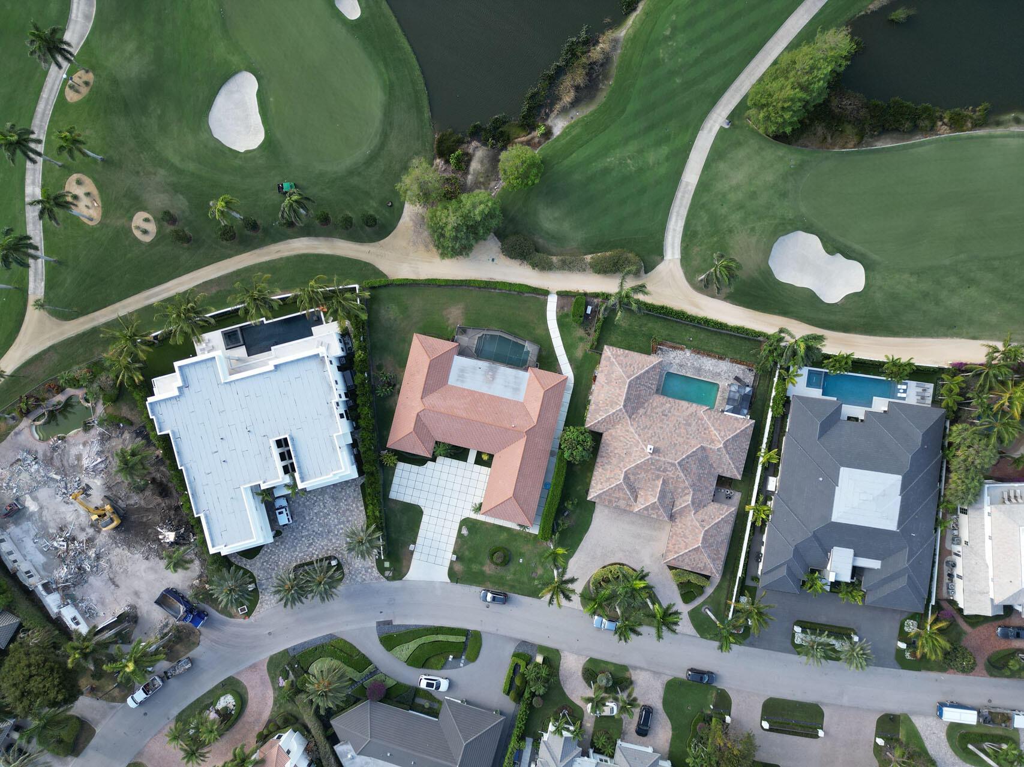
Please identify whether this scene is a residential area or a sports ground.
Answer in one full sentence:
It's a residential area.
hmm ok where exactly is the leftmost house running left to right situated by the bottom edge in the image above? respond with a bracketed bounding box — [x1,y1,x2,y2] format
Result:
[330,694,505,767]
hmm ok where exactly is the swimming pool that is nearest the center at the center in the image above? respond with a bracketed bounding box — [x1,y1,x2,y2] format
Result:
[473,332,532,369]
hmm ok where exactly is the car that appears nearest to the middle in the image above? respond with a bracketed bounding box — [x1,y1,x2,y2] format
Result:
[479,588,508,605]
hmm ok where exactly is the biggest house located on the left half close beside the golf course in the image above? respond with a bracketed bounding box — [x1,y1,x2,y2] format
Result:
[147,332,364,555]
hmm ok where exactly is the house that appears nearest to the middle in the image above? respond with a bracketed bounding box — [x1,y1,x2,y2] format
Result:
[386,333,568,527]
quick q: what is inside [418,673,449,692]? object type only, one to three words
car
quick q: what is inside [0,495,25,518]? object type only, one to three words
work vehicle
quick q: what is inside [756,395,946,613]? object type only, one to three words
house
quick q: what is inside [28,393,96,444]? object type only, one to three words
swimming pool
